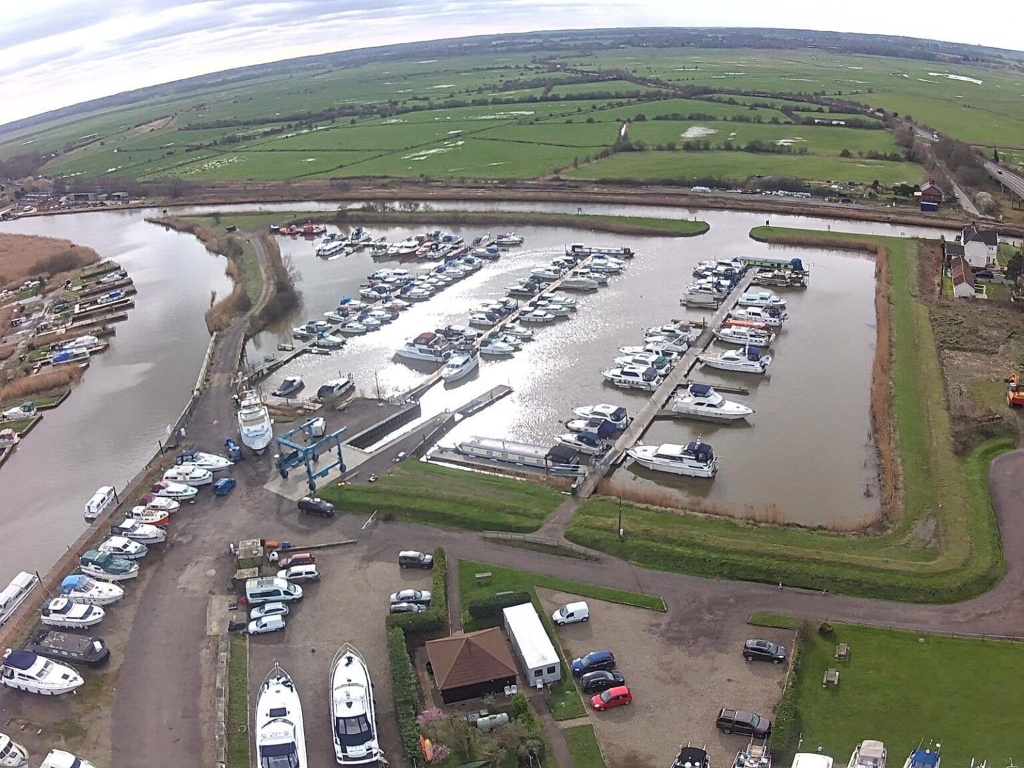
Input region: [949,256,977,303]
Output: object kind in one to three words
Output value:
building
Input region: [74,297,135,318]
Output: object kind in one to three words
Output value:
pier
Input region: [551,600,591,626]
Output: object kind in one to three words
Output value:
vehicle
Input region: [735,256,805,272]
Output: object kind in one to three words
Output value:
boat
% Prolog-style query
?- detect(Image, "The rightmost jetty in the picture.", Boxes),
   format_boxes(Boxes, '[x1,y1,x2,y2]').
[614,269,759,451]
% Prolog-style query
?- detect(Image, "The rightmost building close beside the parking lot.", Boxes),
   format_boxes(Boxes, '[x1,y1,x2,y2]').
[502,602,561,688]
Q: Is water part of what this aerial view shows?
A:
Yes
